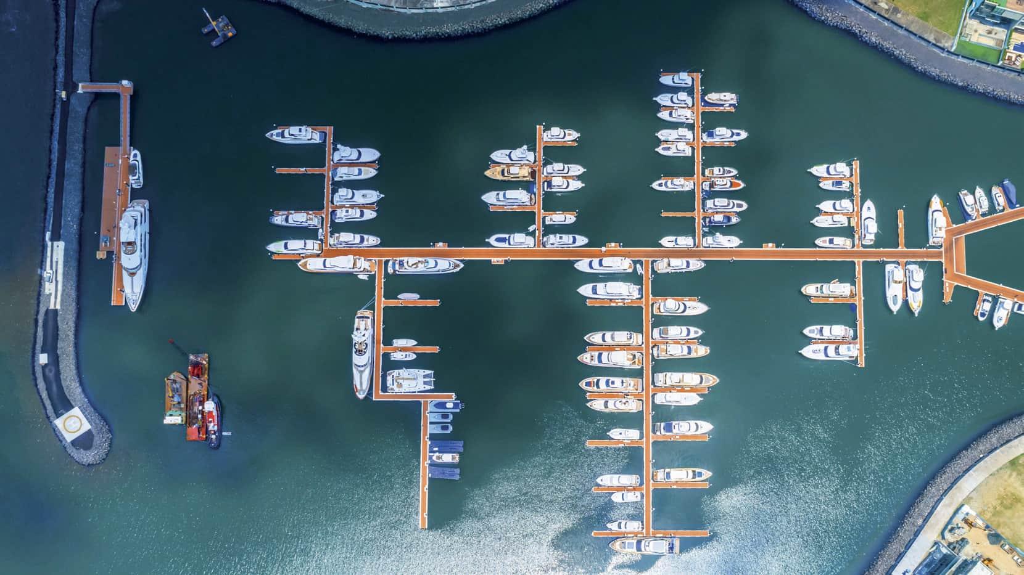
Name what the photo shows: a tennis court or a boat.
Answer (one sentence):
It is a boat that can be seen here.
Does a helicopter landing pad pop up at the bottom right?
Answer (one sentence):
No, looking at the bottom right, there is no helicopter landing pad.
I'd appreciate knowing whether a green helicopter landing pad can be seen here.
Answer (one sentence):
No, there isn't any green helicopter landing pad down there.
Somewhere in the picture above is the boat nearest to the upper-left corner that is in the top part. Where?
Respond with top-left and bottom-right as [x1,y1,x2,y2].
[130,149,143,191]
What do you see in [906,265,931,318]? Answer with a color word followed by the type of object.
white boat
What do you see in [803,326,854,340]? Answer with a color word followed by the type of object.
white boat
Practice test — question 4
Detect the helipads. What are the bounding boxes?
[55,407,91,442]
